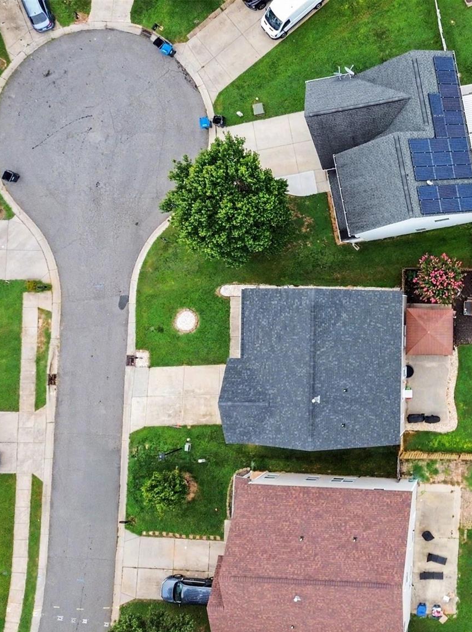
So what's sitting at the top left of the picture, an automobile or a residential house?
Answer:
automobile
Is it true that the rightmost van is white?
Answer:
Yes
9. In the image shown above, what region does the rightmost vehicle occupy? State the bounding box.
[260,0,326,42]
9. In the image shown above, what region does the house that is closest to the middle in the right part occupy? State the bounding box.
[218,288,405,451]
